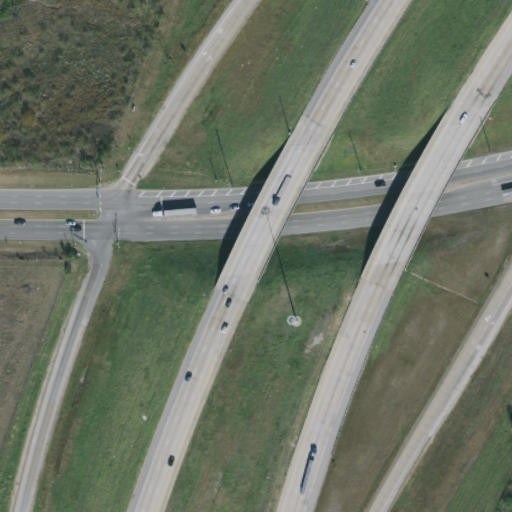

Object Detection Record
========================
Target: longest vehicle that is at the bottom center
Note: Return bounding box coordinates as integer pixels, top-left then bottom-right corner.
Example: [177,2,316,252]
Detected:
[301,444,318,493]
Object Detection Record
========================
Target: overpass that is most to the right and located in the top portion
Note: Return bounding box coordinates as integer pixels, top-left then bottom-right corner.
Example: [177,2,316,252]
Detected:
[358,98,488,298]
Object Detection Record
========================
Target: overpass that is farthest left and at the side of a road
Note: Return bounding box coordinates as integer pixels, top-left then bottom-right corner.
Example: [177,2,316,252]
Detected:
[214,113,336,304]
